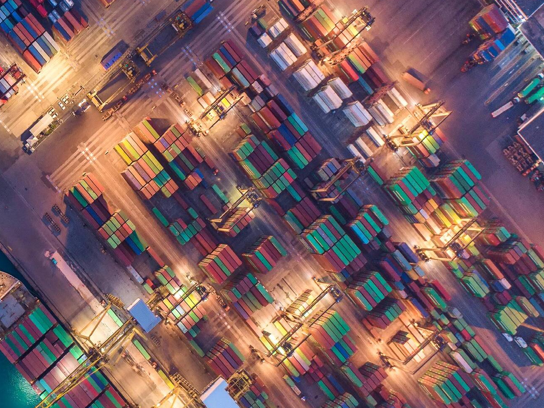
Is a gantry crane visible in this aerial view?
Yes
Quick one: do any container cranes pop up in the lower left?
Yes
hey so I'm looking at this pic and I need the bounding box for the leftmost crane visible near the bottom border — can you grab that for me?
[29,287,172,408]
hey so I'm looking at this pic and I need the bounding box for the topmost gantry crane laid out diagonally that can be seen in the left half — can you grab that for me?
[129,17,188,69]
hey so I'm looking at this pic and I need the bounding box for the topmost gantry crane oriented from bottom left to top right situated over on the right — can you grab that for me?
[307,9,375,63]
